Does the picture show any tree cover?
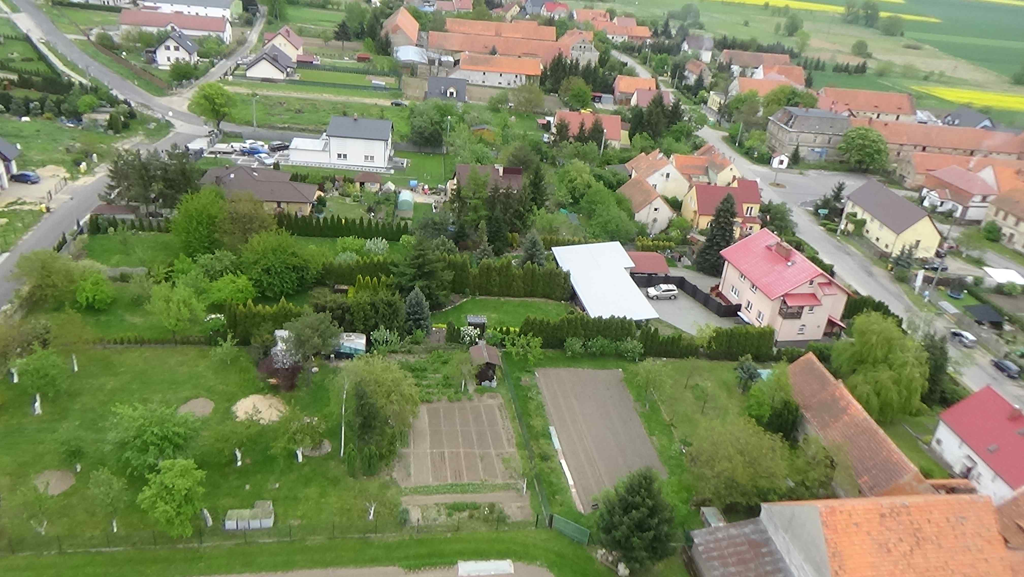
Yes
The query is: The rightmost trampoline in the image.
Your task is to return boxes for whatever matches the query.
[944,286,970,301]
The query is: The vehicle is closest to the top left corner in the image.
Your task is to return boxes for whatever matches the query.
[11,172,42,186]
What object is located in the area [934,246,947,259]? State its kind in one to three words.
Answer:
vehicle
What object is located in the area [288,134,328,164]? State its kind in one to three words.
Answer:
building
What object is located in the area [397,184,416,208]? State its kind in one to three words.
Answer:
greenhouse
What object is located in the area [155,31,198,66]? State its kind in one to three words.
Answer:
house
